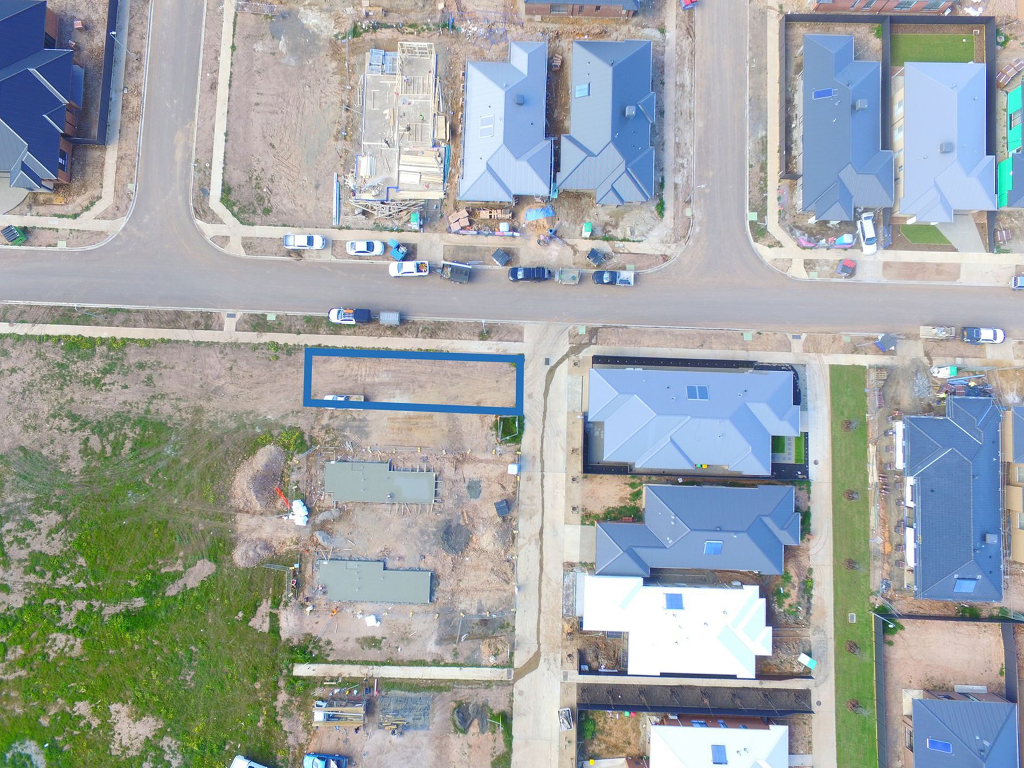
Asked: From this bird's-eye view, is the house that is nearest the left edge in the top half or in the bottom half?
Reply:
top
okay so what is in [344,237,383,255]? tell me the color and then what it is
white car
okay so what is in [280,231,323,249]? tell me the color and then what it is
white vehicle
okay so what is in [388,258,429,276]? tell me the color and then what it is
white vehicle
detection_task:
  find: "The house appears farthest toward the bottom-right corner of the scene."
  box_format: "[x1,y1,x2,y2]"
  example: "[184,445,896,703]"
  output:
[903,685,1020,768]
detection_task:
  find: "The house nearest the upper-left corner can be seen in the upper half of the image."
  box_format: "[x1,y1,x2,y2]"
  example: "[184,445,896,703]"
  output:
[0,0,85,191]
